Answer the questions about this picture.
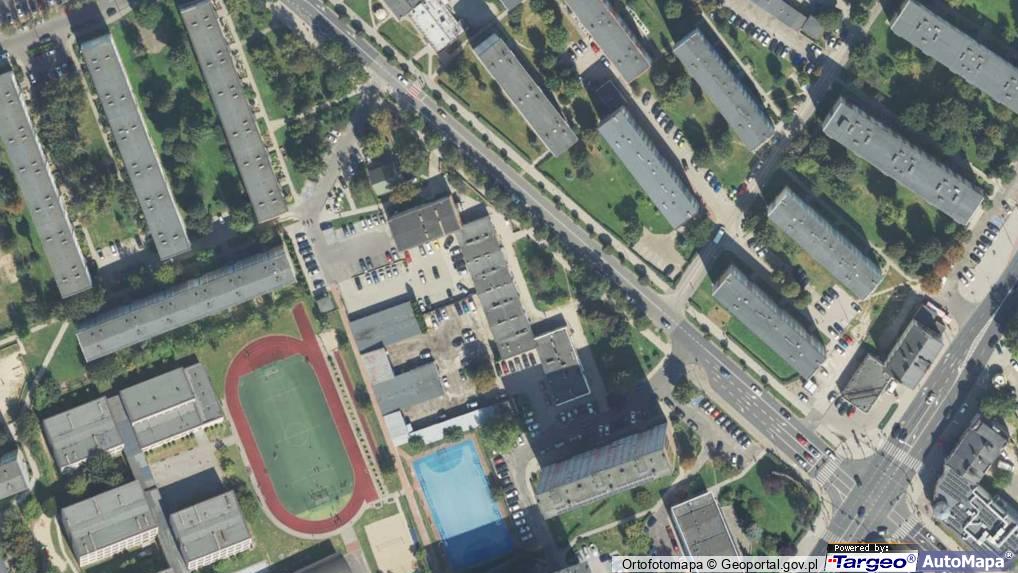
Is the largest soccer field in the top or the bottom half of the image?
bottom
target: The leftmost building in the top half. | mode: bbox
[0,66,95,299]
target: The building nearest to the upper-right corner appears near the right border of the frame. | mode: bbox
[891,0,1018,112]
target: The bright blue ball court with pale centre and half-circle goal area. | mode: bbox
[414,440,513,571]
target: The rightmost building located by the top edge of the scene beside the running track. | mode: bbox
[181,0,290,224]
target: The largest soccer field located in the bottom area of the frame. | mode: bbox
[236,356,356,516]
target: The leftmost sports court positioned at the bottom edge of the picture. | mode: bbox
[365,513,419,573]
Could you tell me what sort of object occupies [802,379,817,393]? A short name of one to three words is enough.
vehicle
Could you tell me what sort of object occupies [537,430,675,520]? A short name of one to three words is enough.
building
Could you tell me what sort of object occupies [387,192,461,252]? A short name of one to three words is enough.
building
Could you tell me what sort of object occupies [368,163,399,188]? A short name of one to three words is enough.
shed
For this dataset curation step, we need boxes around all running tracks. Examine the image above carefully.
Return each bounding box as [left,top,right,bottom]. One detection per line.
[225,301,378,529]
